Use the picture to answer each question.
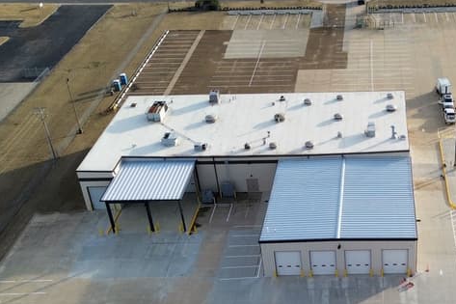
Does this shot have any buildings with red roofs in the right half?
No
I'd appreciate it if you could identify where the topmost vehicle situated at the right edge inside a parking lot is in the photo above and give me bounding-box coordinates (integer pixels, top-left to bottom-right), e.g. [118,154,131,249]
[435,72,455,107]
